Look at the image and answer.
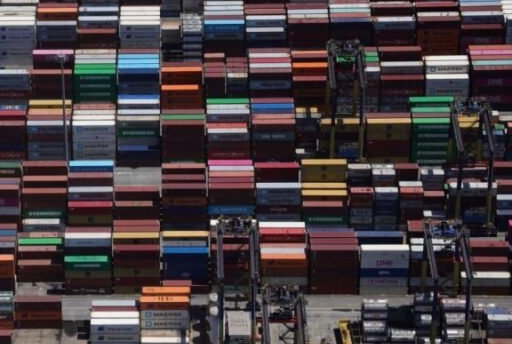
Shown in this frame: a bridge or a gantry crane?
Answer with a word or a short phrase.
gantry crane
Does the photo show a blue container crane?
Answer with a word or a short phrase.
No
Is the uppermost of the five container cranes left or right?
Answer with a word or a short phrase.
right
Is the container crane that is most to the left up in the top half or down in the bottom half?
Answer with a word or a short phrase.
bottom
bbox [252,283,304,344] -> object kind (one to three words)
container crane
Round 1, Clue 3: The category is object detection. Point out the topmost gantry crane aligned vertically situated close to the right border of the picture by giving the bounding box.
[446,100,500,233]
